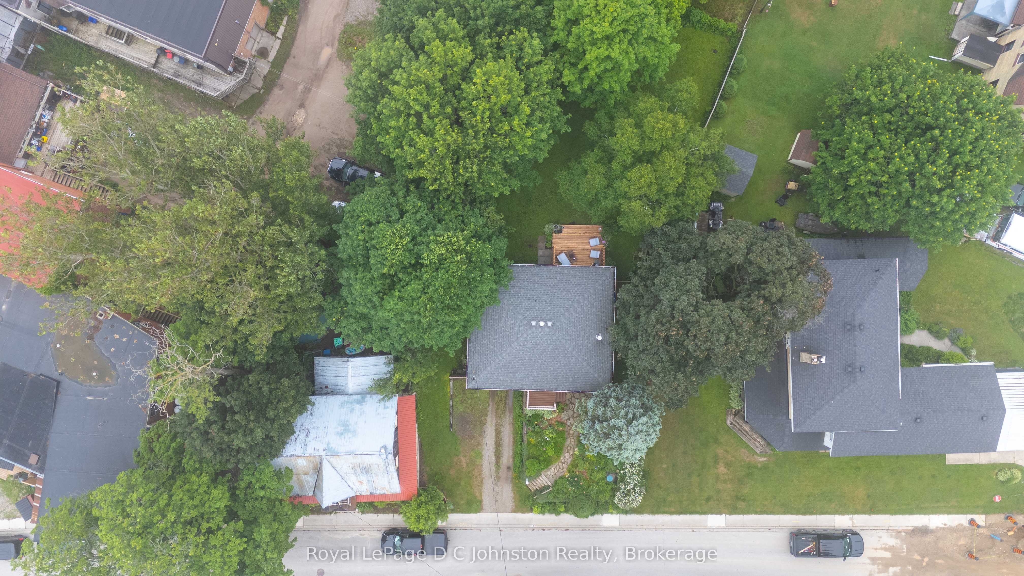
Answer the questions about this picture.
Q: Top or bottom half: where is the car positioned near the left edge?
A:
bottom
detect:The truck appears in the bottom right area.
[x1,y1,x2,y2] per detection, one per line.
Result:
[787,526,865,559]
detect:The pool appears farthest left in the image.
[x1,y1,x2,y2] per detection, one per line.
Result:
[276,305,329,352]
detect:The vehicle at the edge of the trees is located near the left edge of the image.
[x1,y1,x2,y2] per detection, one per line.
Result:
[0,530,29,559]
